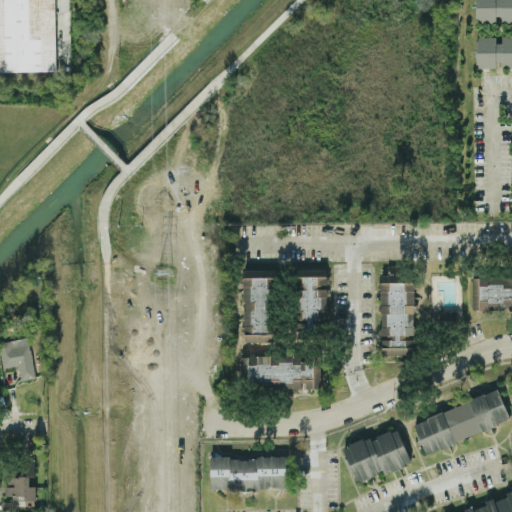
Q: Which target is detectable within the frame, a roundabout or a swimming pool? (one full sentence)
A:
I can see a swimming pool in this picture.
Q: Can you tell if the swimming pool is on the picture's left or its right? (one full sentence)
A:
The swimming pool sits on the right side.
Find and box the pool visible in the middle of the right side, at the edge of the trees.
[432,275,462,311]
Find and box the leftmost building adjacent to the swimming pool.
[380,276,416,358]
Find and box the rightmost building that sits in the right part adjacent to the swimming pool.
[474,278,512,311]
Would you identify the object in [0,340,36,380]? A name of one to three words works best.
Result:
house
